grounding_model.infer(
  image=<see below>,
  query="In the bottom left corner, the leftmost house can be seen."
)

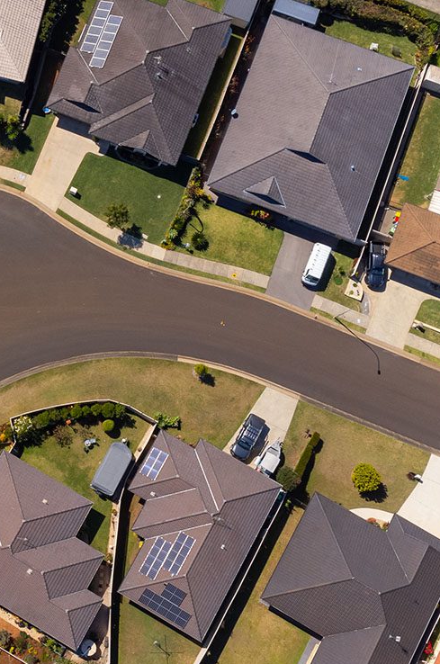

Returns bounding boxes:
[0,450,106,650]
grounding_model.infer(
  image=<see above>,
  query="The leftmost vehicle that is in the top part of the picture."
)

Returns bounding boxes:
[302,244,329,285]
